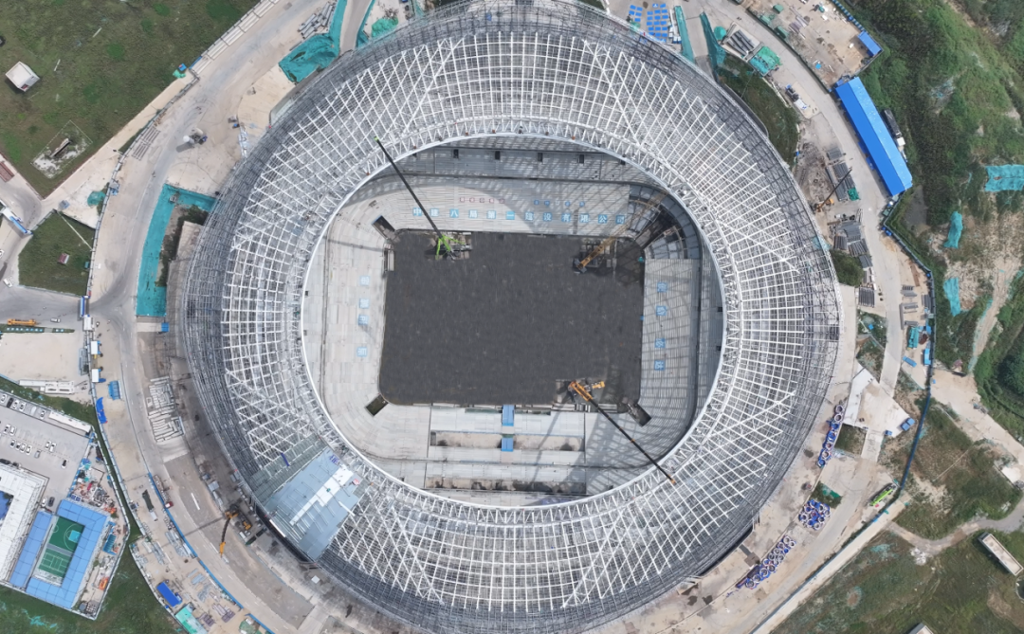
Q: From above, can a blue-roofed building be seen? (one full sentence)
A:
Yes, a blue-roofed building is visible in the scene.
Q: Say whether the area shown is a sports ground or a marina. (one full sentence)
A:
This image shows a sports ground.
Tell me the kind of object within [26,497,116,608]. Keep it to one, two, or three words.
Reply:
building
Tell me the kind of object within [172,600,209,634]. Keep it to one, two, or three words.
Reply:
shed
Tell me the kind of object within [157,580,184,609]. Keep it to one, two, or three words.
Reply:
shed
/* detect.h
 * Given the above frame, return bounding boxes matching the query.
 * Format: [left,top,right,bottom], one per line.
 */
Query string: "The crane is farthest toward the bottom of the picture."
[217,506,253,559]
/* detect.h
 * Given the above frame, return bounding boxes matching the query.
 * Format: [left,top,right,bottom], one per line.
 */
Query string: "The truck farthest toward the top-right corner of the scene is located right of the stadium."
[884,109,906,145]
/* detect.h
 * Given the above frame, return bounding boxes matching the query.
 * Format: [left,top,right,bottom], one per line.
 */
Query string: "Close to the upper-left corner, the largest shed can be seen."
[7,62,42,95]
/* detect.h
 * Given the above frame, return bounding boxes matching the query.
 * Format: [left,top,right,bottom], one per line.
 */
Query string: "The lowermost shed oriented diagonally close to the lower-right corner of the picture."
[977,531,1023,575]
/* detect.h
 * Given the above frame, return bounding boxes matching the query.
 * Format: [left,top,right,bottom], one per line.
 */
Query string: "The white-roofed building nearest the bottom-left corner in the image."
[0,455,56,580]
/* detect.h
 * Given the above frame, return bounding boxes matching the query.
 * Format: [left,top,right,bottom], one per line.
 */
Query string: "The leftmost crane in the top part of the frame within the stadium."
[376,139,470,262]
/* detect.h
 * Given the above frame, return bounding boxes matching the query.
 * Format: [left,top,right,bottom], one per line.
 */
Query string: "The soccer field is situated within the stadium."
[380,227,646,411]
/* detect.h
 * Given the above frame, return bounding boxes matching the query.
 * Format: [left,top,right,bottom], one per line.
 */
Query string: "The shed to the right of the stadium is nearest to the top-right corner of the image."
[855,31,881,58]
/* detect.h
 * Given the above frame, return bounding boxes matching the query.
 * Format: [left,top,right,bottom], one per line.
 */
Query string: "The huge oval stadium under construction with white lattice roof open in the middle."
[178,0,849,634]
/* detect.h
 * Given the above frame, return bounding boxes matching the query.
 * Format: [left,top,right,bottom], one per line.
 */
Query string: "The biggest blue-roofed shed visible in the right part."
[830,73,914,200]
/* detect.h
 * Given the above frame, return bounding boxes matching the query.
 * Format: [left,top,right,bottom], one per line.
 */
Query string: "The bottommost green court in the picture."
[39,549,72,579]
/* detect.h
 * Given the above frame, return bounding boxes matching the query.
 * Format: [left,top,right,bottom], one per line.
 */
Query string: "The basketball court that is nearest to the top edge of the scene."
[49,517,83,552]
